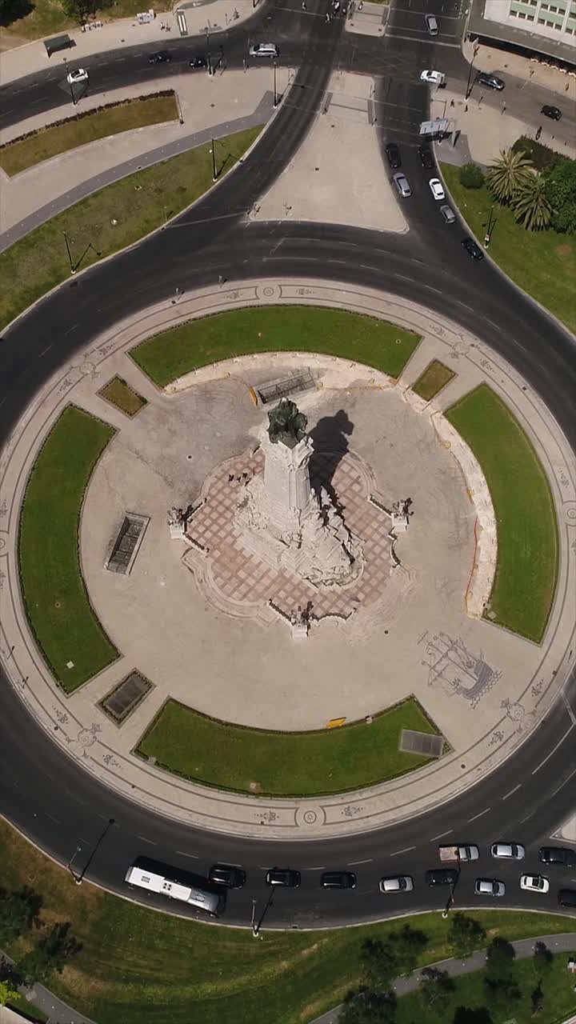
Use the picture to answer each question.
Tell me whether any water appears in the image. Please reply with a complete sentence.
No, the picture contains no water.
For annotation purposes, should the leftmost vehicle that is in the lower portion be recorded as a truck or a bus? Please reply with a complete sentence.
What you see as the leftmost vehicle that is in the lower portion is a bus.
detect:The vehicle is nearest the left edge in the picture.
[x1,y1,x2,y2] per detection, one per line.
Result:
[65,66,90,82]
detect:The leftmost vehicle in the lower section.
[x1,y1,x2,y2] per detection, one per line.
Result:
[127,864,227,919]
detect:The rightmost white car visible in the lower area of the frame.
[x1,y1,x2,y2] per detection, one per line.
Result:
[520,875,551,894]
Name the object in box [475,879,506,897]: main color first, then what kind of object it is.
gray car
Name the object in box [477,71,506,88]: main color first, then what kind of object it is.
black car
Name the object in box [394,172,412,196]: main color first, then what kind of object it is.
gray car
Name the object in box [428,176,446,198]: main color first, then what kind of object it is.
white car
